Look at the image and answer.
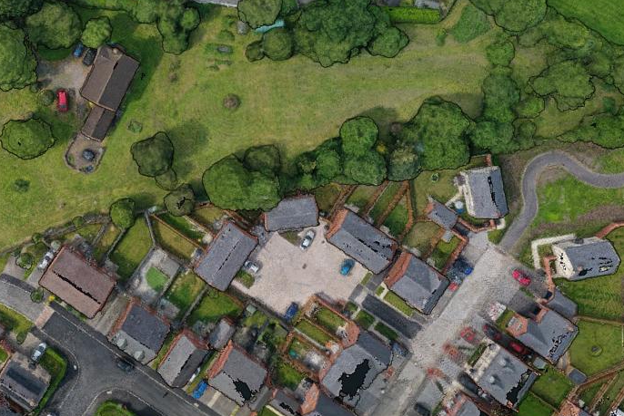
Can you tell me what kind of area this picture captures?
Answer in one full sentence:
It's a residential area.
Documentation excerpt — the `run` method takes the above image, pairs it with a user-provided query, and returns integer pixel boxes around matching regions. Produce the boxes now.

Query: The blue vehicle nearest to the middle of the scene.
[339,256,354,279]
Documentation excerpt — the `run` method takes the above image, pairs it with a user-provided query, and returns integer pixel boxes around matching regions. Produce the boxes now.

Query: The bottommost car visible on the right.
[412,402,433,416]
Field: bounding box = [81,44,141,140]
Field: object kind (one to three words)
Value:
house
